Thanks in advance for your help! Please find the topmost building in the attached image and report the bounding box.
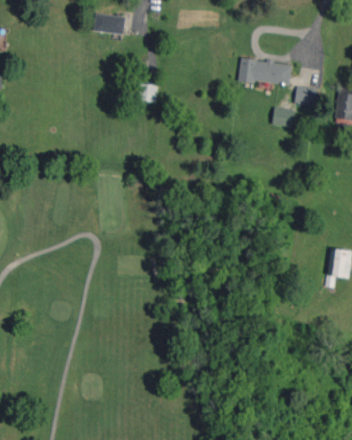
[93,12,125,33]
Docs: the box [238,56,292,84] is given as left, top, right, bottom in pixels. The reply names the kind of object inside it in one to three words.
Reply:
house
